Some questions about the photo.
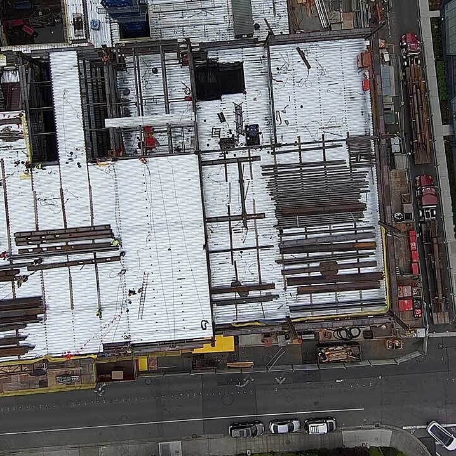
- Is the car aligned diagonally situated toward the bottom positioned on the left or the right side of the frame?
right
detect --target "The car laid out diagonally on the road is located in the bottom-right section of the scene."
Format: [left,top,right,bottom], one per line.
[423,419,456,451]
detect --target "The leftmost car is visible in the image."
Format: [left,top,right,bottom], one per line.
[229,419,264,437]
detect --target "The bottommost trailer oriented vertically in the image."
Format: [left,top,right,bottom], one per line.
[418,210,450,321]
